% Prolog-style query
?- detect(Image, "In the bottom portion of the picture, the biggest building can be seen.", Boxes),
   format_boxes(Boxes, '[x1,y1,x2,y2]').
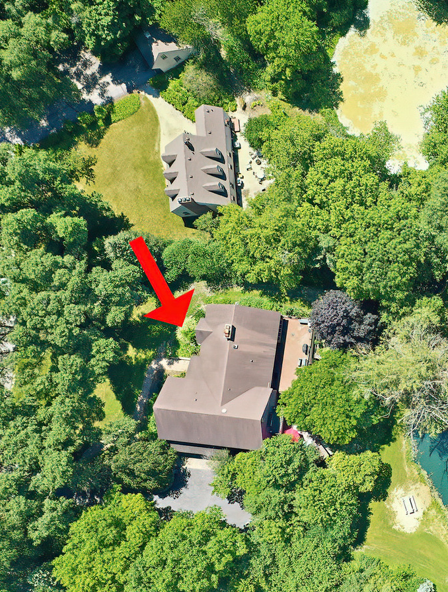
[150,301,291,461]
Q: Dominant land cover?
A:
trees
